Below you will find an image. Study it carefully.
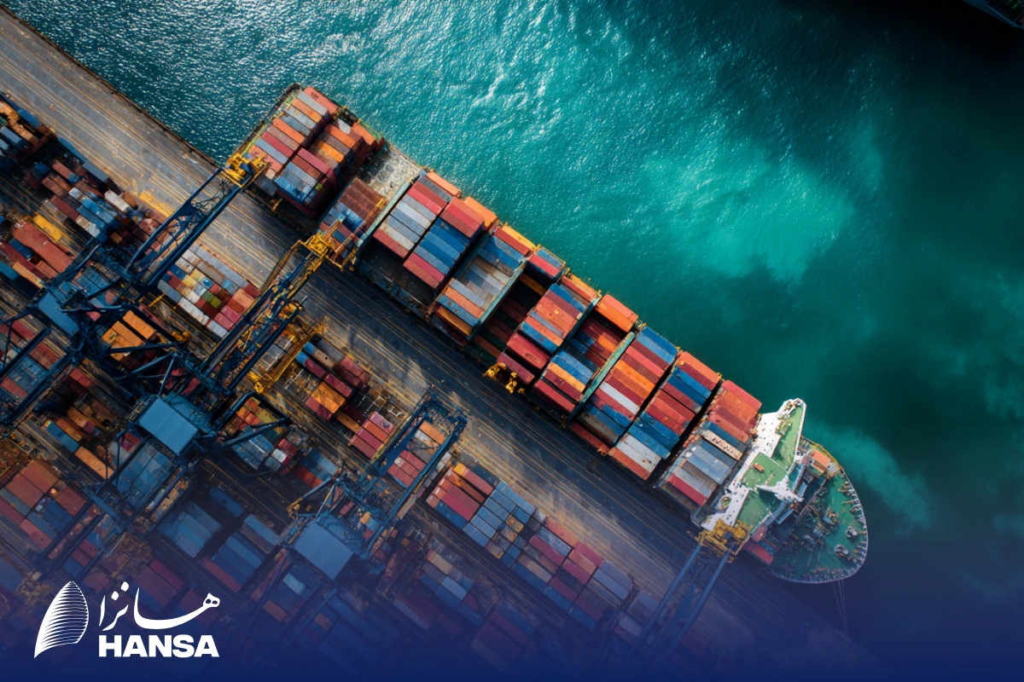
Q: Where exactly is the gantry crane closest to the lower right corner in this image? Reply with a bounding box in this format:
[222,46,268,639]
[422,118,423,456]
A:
[560,508,749,682]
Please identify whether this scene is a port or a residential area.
port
